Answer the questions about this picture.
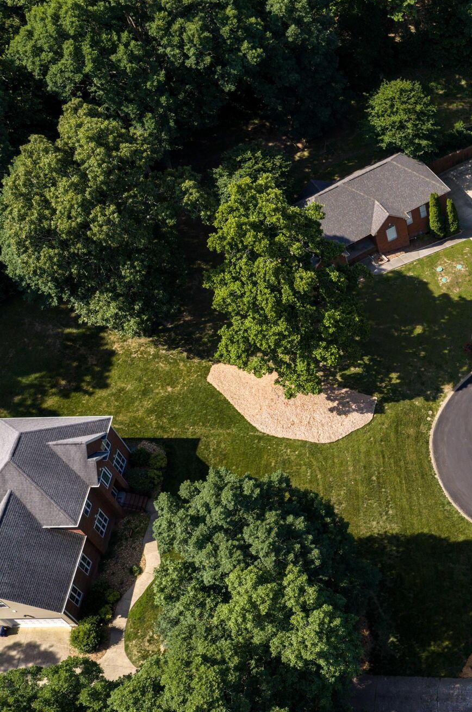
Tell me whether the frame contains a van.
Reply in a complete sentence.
No, there's no van here.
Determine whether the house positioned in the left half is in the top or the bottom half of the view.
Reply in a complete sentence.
The house positioned in the left half sits in the bottom half of the picture.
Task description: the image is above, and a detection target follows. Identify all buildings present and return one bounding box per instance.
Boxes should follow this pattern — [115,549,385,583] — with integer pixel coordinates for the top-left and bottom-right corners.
[0,415,160,627]
[254,143,451,280]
